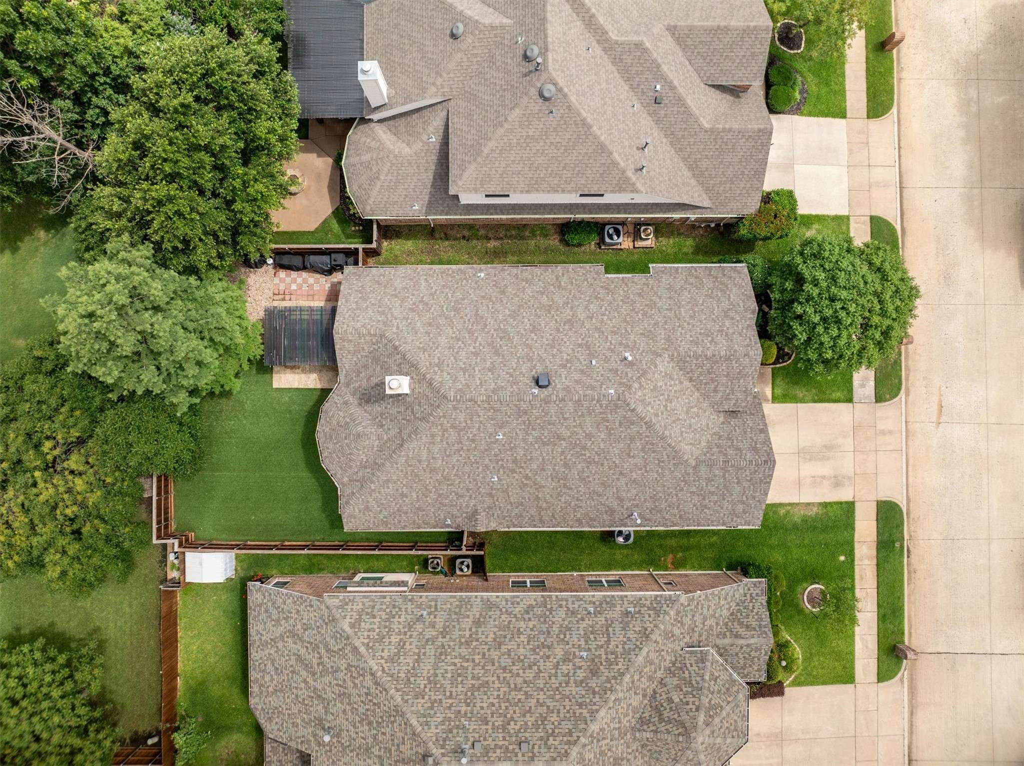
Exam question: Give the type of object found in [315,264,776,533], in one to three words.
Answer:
house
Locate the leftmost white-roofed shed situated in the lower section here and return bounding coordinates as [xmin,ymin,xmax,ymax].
[185,553,238,584]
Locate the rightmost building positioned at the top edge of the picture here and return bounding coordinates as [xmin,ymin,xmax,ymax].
[342,0,773,231]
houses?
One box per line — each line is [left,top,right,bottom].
[342,0,773,231]
[315,264,776,533]
[247,564,773,766]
